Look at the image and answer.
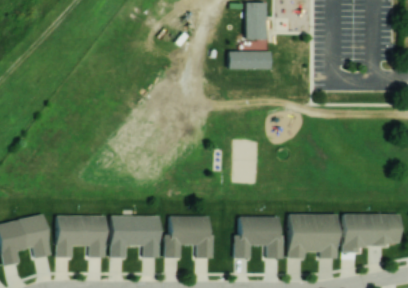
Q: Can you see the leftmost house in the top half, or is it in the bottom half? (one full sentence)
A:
The bottom half of the photo is where the leftmost house is.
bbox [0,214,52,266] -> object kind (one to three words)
house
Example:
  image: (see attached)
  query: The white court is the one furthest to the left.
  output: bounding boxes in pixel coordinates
[231,140,258,185]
